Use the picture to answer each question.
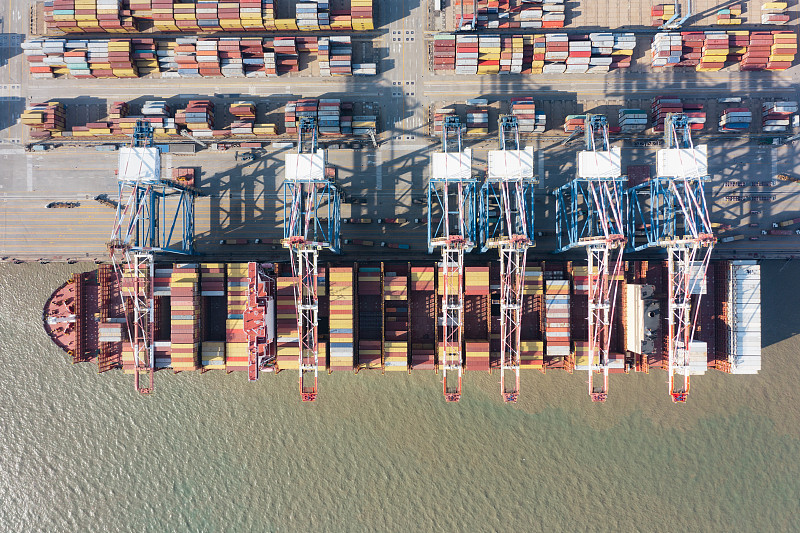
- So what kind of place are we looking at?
port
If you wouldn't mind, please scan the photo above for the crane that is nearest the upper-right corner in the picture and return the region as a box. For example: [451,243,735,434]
[655,0,696,30]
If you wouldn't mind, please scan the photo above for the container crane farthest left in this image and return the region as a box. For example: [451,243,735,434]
[105,119,204,395]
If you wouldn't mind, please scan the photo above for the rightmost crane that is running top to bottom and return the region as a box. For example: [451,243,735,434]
[619,112,718,402]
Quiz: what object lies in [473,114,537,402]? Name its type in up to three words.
container crane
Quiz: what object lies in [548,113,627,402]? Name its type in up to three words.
container crane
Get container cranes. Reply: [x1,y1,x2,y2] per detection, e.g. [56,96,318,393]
[423,114,477,402]
[105,119,204,395]
[281,116,345,402]
[619,112,718,402]
[473,114,537,402]
[655,0,696,30]
[548,113,627,402]
[457,0,479,31]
